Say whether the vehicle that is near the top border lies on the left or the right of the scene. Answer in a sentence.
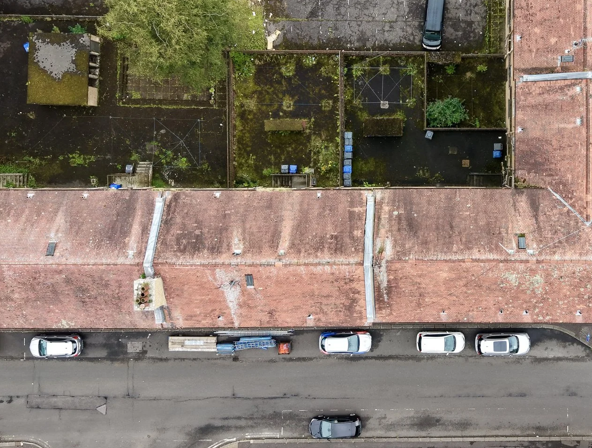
It is on the right.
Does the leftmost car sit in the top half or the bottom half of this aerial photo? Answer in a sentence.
You can find the leftmost car in the bottom half.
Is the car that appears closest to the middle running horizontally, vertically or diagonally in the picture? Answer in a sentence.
From this overhead view, the car that appears closest to the middle appears to run horizontally.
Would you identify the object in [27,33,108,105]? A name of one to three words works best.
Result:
building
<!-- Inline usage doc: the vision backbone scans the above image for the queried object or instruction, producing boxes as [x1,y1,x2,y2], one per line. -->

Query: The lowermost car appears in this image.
[310,412,362,441]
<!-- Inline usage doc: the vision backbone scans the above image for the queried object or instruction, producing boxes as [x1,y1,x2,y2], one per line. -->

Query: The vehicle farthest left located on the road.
[31,333,85,360]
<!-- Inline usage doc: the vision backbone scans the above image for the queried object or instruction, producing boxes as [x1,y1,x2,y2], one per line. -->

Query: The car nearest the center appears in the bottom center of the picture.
[319,330,371,356]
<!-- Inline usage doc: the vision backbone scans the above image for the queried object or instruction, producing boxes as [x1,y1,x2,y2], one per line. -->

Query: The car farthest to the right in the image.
[476,331,530,359]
